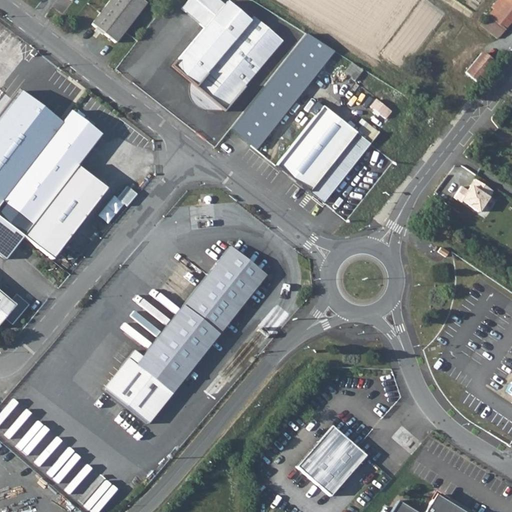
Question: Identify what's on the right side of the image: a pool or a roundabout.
roundabout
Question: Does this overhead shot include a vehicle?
Yes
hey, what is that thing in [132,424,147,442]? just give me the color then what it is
white vehicle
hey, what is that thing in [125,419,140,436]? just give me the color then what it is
white vehicle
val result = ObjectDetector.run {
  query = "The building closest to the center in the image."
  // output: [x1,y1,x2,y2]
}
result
[184,246,267,333]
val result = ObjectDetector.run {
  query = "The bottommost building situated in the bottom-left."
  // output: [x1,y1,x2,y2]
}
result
[104,358,174,422]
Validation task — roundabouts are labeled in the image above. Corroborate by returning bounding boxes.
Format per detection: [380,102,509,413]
[320,236,406,322]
